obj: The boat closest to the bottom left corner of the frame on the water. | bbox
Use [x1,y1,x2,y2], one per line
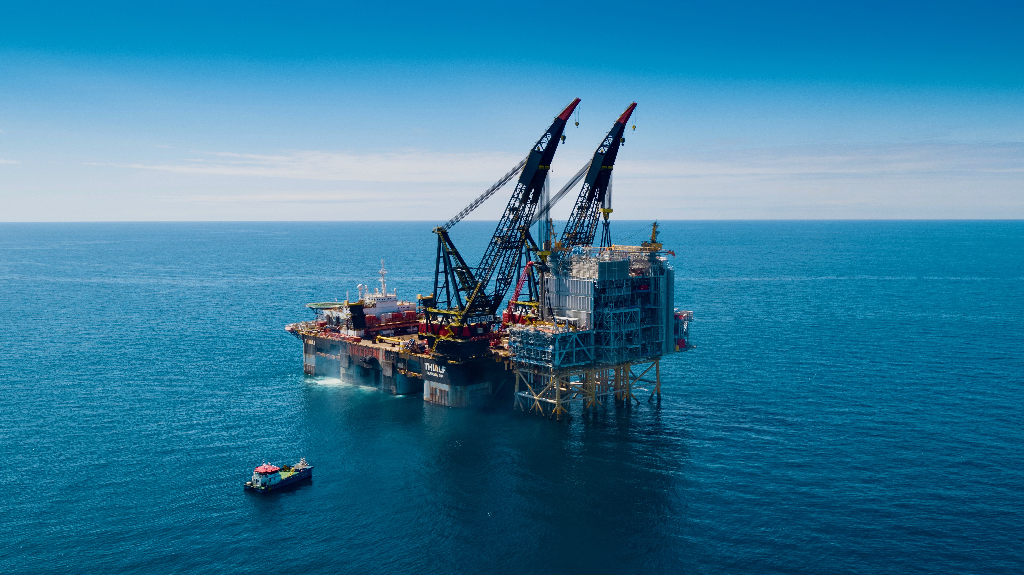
[245,454,312,493]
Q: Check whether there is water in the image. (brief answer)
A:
Yes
